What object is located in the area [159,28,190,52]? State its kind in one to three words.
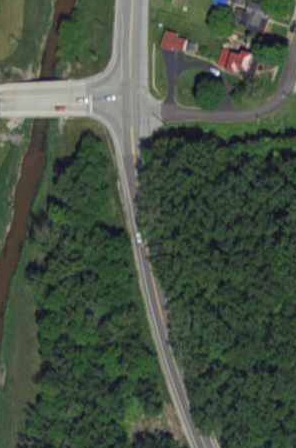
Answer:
house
